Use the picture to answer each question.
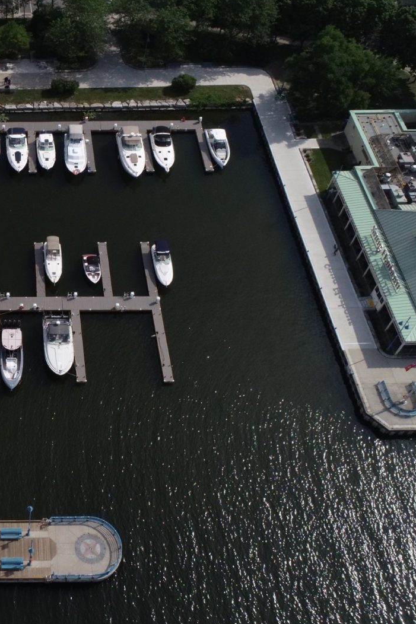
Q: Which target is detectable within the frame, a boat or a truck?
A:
boat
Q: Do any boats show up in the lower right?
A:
No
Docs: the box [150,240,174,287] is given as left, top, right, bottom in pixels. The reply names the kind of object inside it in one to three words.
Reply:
boat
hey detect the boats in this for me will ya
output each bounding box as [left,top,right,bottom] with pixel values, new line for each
[150,240,174,287]
[81,254,100,284]
[36,130,57,170]
[43,236,63,284]
[119,125,148,176]
[63,123,87,176]
[42,311,73,372]
[150,123,176,171]
[1,323,22,386]
[205,130,230,168]
[7,126,29,172]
